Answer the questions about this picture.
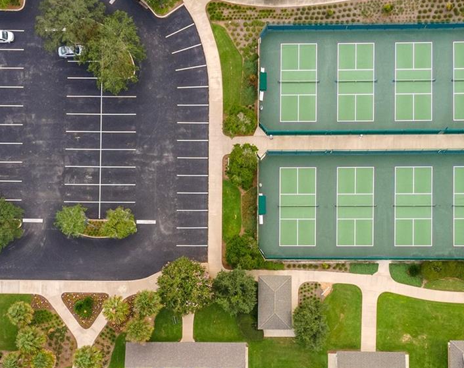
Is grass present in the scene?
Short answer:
Yes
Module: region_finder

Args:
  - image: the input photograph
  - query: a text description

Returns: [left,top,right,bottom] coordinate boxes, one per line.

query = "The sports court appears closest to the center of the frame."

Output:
[278,167,319,245]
